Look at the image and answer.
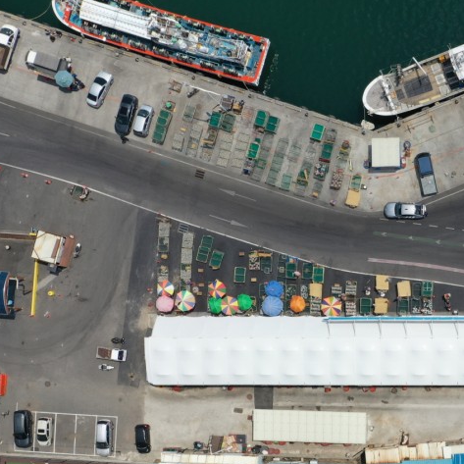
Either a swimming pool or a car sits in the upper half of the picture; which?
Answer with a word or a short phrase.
car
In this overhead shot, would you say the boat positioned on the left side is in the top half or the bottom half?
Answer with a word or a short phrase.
top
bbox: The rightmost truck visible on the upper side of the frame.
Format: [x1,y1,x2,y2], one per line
[414,152,437,197]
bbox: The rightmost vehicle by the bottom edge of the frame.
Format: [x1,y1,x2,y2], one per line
[133,423,152,452]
